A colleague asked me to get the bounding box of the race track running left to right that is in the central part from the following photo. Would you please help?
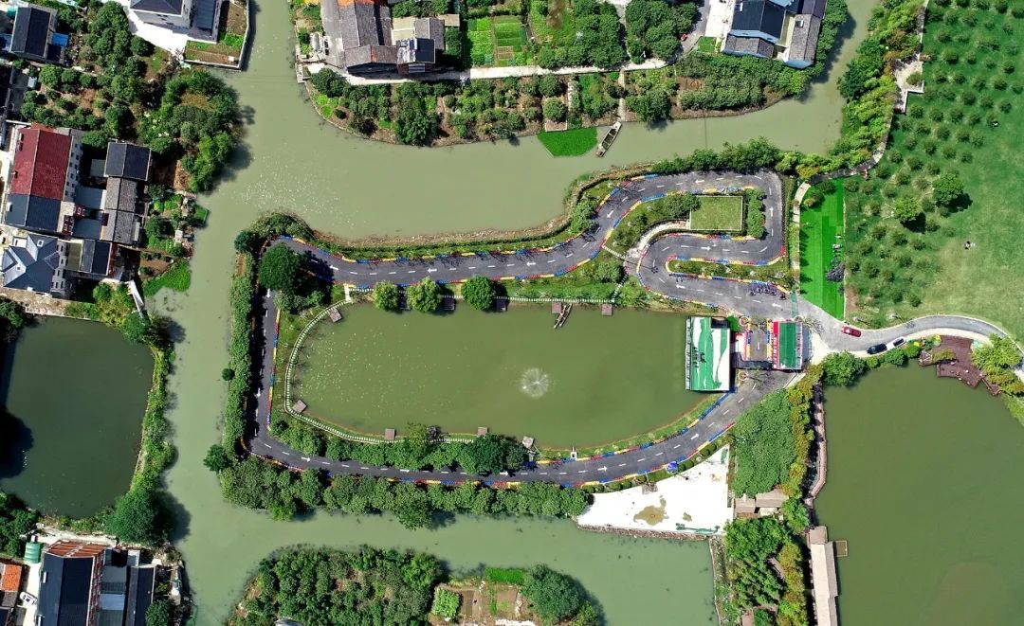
[239,161,843,492]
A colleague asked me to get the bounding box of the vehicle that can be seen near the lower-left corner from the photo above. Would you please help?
[19,591,38,606]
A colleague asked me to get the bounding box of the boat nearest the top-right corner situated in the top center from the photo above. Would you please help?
[598,121,624,157]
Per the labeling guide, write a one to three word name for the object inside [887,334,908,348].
car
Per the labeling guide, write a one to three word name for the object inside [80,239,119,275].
house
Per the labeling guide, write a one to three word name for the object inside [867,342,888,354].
vehicle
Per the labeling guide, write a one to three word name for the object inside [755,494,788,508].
shed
